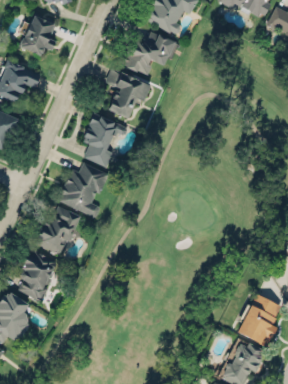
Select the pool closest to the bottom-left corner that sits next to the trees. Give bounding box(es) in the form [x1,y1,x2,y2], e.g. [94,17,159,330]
[30,310,47,330]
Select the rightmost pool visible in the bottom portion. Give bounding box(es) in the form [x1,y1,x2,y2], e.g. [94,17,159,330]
[210,334,232,363]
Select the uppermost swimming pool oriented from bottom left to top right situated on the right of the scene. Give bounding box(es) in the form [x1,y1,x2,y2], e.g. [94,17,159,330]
[177,13,200,36]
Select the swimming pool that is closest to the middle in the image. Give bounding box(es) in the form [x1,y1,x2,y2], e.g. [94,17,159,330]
[112,128,134,154]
